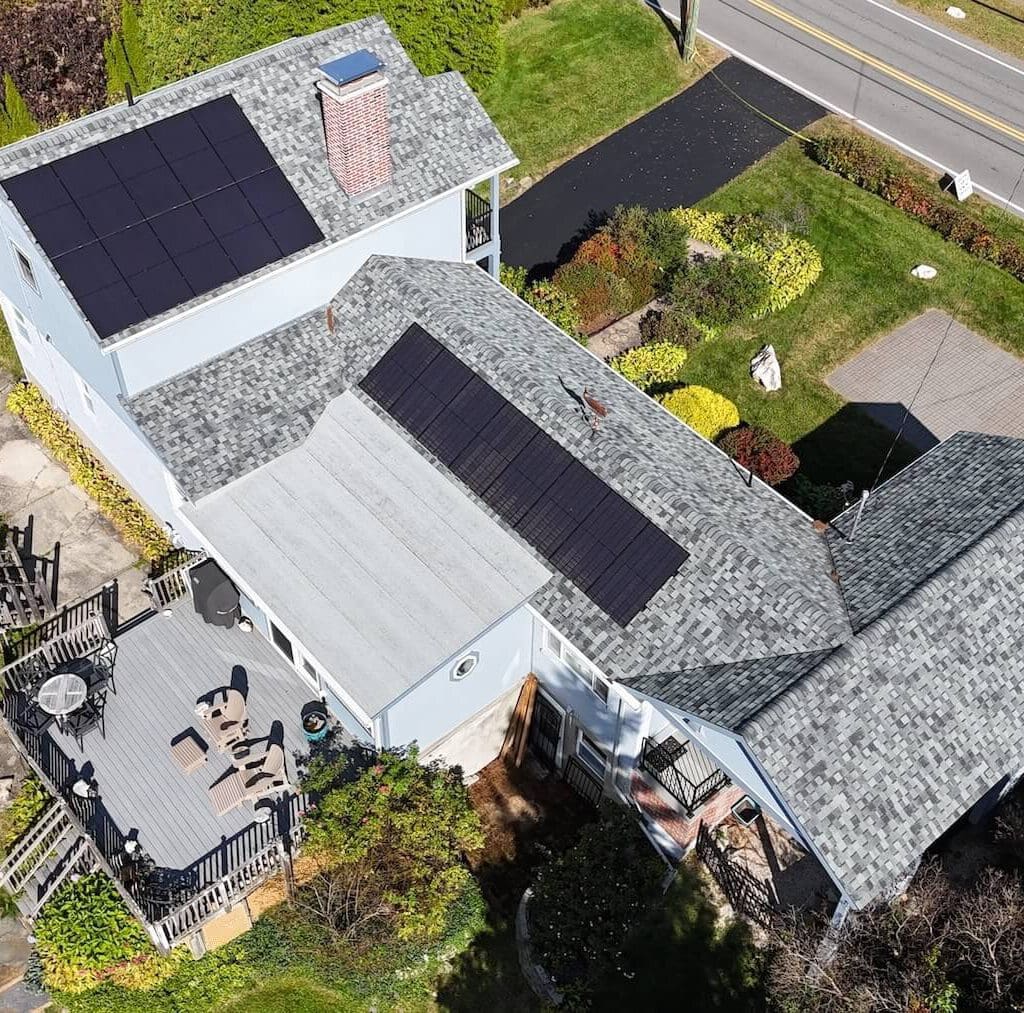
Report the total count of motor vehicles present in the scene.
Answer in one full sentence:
I count no motor vehicles.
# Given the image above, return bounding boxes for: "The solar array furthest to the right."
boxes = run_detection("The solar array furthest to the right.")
[355,326,688,629]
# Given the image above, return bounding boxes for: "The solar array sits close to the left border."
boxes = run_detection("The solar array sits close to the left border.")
[3,97,326,340]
